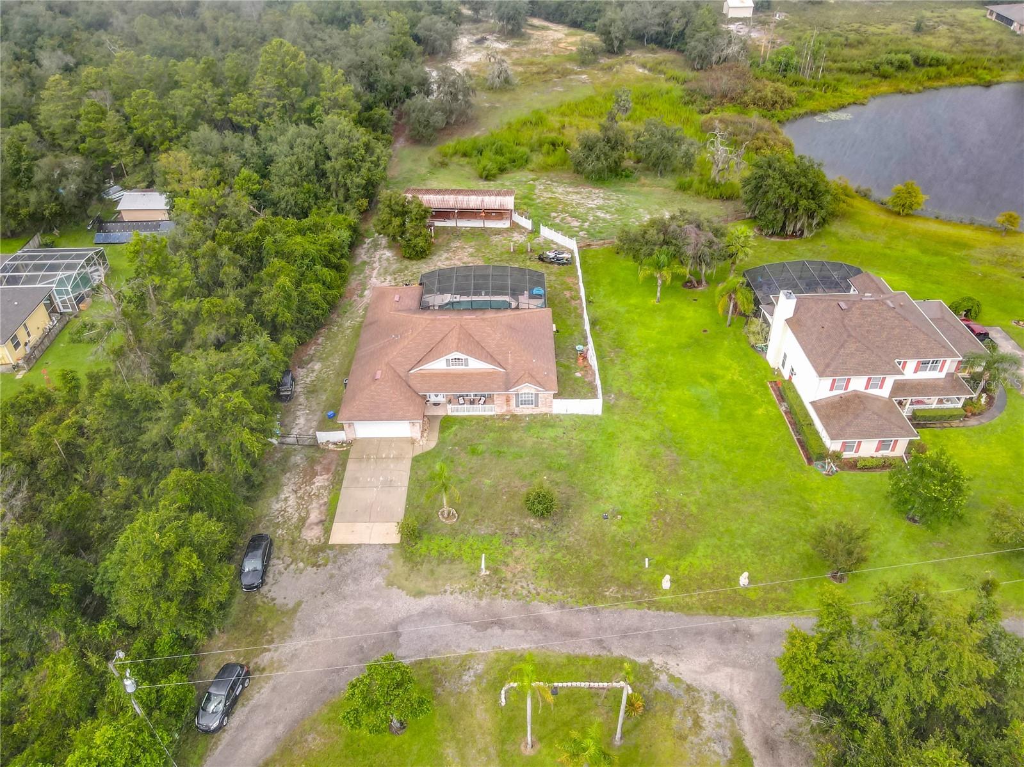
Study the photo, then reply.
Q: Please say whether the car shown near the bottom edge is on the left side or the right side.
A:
left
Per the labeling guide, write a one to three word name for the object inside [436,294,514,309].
swimming pool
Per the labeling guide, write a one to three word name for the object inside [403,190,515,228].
building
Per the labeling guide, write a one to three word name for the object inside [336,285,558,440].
house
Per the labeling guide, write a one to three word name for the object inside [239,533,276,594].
car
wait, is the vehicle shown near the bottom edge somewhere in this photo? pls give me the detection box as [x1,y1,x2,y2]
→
[192,662,255,739]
